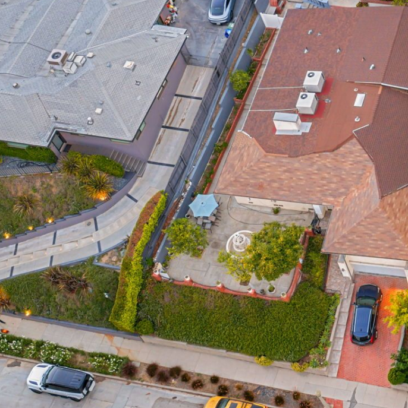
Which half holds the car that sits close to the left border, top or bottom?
bottom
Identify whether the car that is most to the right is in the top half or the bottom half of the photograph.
bottom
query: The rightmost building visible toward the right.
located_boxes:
[214,6,408,275]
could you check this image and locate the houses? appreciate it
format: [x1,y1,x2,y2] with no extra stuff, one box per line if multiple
[0,0,191,164]
[214,6,408,275]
